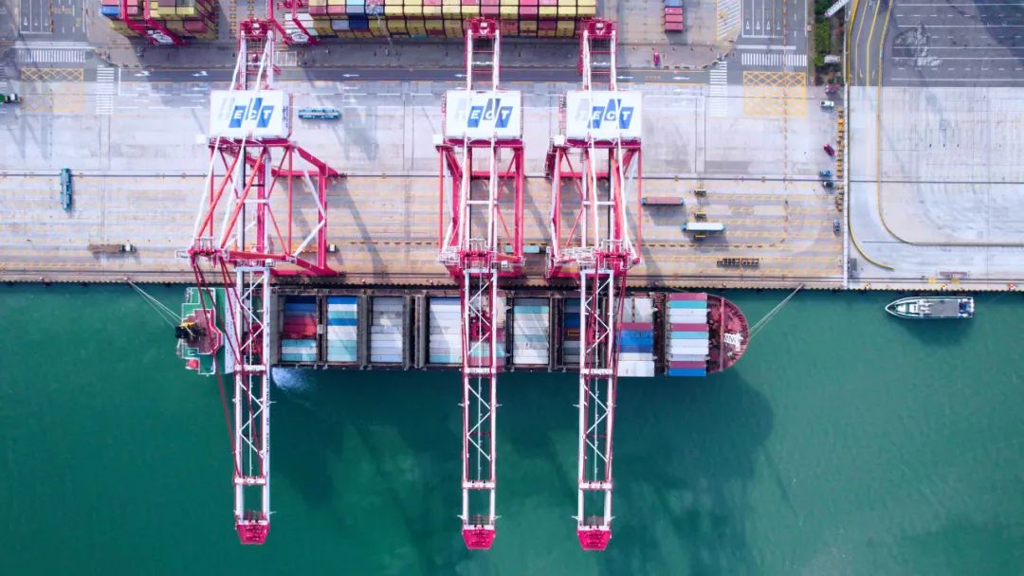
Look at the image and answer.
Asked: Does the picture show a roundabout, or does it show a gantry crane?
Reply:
gantry crane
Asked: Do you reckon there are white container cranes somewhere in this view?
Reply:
Yes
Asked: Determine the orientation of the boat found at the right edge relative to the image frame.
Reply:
from left to right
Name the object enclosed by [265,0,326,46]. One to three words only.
container crane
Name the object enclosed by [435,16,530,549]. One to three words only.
container crane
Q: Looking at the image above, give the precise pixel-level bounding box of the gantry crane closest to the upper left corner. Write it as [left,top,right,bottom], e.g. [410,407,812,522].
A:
[111,0,188,45]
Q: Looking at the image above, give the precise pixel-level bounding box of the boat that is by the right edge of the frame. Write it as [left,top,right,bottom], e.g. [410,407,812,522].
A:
[886,296,976,318]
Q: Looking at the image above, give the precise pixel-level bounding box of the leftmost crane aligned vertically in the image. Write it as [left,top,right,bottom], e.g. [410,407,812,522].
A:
[188,14,346,547]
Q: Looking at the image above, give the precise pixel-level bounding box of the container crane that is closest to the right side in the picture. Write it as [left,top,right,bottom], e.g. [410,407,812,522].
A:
[539,17,647,550]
